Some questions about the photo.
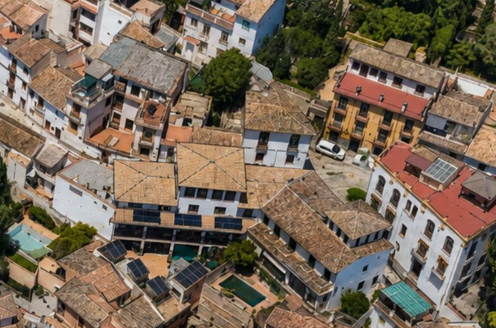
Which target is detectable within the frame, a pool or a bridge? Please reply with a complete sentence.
The image shows a pool.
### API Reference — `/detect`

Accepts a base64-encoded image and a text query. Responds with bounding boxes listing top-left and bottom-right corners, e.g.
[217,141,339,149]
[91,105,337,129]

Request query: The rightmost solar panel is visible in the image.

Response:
[215,216,241,233]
